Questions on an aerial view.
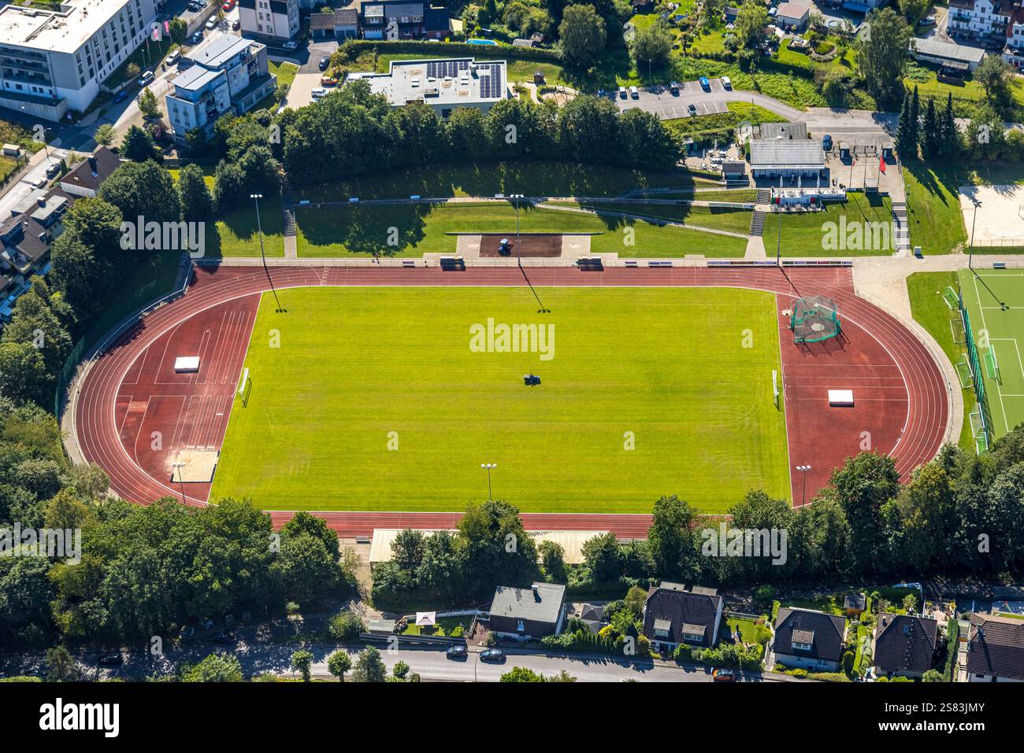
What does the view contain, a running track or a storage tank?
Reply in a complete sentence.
The one in the frame is a running track.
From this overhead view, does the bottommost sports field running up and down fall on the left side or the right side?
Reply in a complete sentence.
The bottommost sports field running up and down appears in the right half of the scene.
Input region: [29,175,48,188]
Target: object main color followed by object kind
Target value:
white vehicle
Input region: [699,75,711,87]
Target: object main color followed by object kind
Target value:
blue vehicle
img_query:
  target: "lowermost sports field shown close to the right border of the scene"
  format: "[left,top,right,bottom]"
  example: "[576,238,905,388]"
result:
[959,269,1024,435]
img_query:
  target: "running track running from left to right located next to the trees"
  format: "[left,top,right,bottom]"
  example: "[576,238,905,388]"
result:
[76,266,947,540]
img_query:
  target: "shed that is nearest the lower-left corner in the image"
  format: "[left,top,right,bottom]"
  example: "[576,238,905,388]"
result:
[363,612,397,638]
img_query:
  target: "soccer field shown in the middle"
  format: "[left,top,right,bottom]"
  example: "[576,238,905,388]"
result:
[209,286,792,514]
